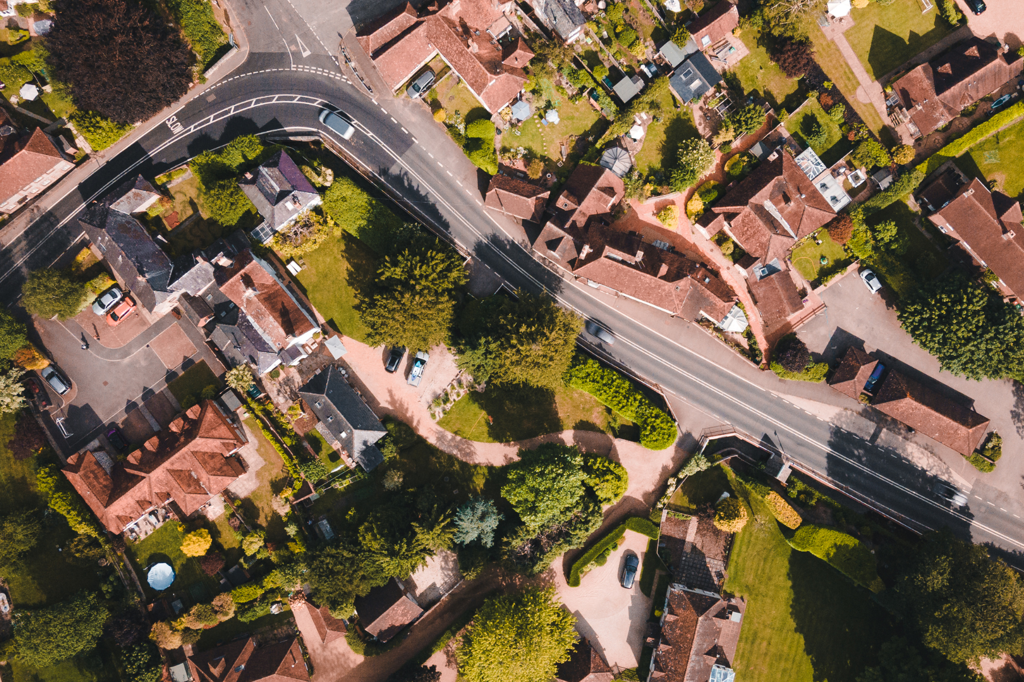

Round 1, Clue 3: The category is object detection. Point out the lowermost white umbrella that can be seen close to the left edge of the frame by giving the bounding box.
[22,84,42,102]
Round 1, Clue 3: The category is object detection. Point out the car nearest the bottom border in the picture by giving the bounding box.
[619,549,640,590]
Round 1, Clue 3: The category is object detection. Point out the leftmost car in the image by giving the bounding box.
[42,361,75,399]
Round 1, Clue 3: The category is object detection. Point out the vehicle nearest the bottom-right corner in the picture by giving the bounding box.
[932,480,967,506]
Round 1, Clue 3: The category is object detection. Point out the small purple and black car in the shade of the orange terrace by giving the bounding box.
[104,420,131,455]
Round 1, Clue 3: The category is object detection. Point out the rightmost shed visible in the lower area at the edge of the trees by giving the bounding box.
[864,368,990,457]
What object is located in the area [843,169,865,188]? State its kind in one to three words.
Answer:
gazebo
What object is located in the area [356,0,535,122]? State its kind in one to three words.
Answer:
house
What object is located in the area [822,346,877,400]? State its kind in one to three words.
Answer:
shed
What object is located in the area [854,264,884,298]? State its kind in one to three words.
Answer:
car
